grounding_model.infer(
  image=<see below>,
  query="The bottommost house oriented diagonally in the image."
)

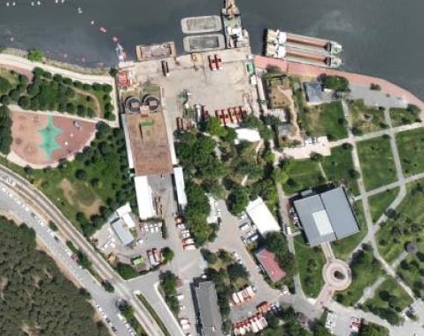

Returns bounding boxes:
[254,248,286,282]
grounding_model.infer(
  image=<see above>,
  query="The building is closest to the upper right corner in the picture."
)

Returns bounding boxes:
[303,81,324,102]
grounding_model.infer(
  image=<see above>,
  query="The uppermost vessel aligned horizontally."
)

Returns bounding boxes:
[180,16,223,34]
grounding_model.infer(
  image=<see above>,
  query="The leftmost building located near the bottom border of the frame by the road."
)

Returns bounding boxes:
[196,277,225,336]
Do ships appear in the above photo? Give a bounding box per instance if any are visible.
[264,29,342,53]
[136,41,176,61]
[221,0,251,48]
[182,33,225,53]
[263,44,342,66]
[180,16,223,34]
